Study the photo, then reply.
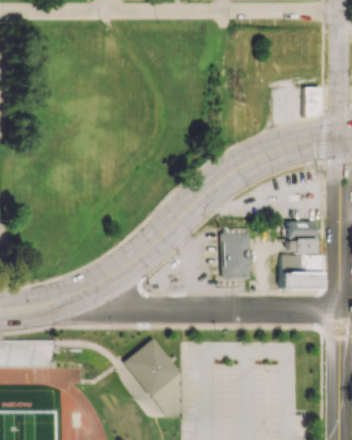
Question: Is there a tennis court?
No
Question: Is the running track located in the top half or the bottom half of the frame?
bottom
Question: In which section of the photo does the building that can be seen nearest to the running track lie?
bottom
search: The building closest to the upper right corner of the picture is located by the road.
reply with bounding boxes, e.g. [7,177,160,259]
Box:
[302,86,324,118]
